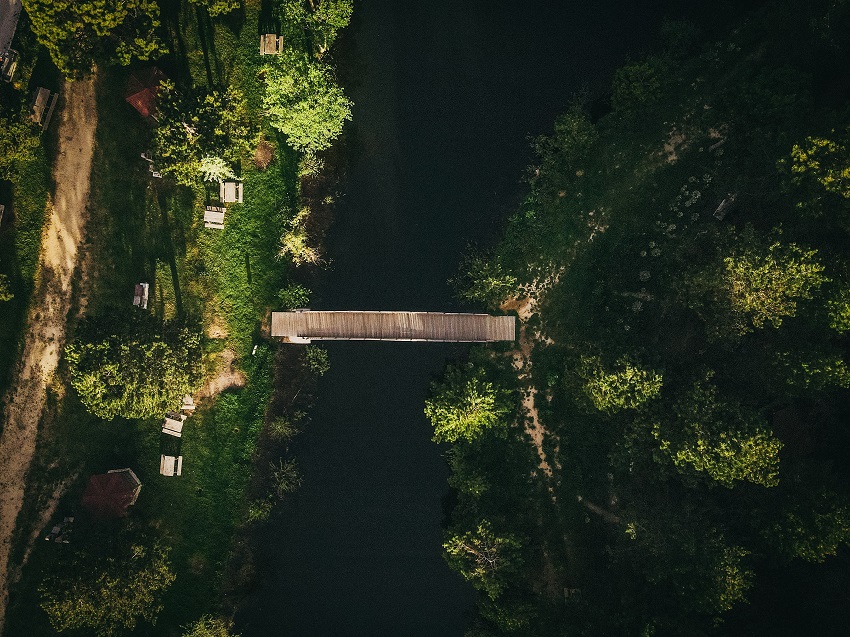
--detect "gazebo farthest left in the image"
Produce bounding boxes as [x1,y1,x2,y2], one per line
[82,463,149,519]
